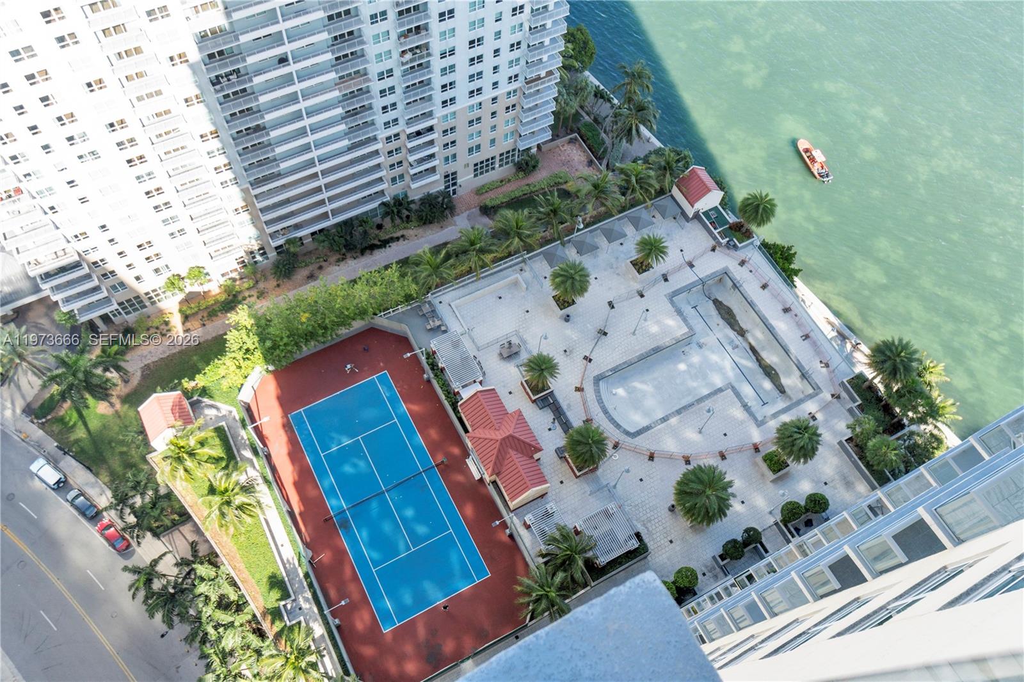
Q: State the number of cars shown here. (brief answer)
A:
3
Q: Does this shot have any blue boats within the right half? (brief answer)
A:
No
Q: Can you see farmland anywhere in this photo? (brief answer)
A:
No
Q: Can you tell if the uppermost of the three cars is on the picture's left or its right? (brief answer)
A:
left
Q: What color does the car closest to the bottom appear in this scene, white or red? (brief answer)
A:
red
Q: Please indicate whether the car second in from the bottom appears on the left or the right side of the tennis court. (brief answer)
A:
left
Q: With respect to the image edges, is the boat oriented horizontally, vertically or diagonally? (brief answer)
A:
diagonally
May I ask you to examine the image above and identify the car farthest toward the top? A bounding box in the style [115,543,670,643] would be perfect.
[29,456,67,492]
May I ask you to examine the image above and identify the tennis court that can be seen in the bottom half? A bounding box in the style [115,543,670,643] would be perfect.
[251,327,548,682]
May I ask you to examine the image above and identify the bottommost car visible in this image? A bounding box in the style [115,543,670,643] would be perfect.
[95,516,133,554]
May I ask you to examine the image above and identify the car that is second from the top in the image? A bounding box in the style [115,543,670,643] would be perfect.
[63,488,101,522]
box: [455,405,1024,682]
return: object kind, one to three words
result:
building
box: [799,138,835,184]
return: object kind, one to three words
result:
boat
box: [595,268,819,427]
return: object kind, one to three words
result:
swimming pool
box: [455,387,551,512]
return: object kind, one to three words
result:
building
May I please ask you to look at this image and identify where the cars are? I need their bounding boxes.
[63,488,101,522]
[95,516,133,554]
[29,456,67,492]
